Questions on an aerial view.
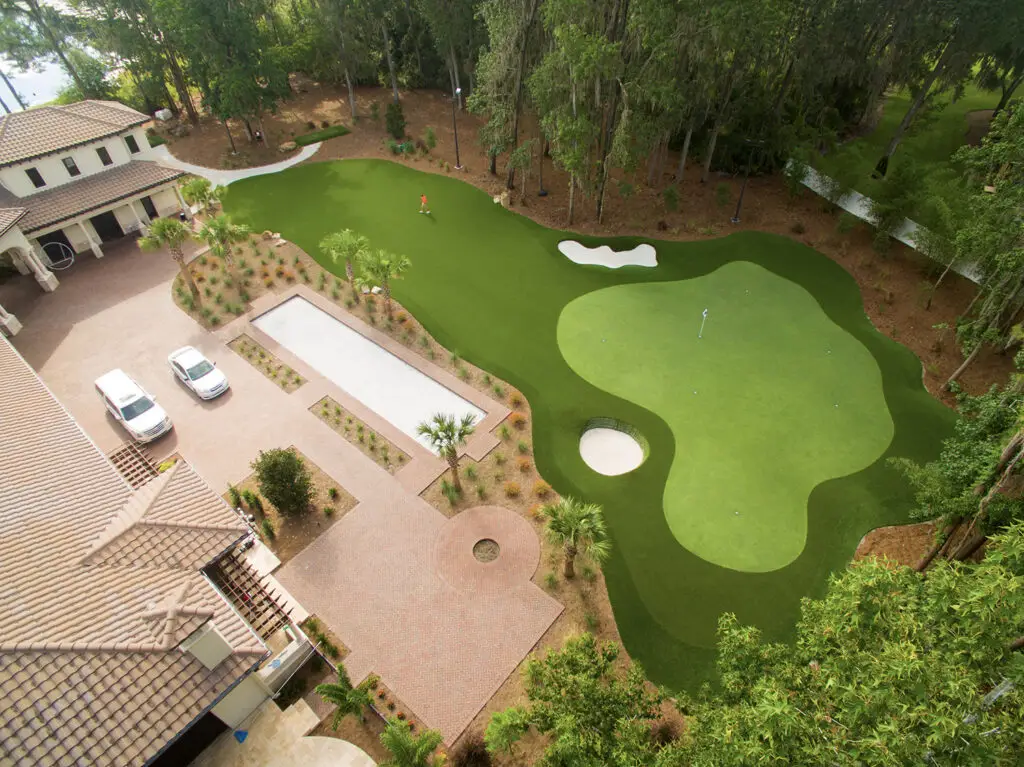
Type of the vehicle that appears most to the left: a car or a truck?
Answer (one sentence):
From above, the vehicle that appears most to the left can be identified as a car.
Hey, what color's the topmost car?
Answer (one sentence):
In this view, the topmost car is white.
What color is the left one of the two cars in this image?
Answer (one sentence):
The color of the left one of the two cars is white.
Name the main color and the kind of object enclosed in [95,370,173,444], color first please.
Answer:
white car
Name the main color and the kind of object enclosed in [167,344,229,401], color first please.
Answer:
white car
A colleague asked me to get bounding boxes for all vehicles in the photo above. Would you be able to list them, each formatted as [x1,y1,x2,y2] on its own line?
[95,370,173,444]
[167,344,229,401]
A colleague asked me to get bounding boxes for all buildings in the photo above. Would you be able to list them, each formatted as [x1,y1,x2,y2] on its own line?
[0,97,197,283]
[0,333,279,767]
